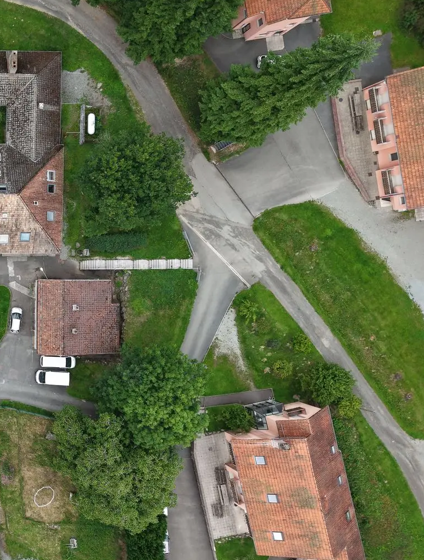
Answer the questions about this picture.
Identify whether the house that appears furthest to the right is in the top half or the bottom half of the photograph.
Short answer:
top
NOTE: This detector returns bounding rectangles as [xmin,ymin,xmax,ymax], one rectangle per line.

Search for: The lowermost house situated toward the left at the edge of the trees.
[34,279,122,355]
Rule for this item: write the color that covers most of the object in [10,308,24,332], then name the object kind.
white vehicle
